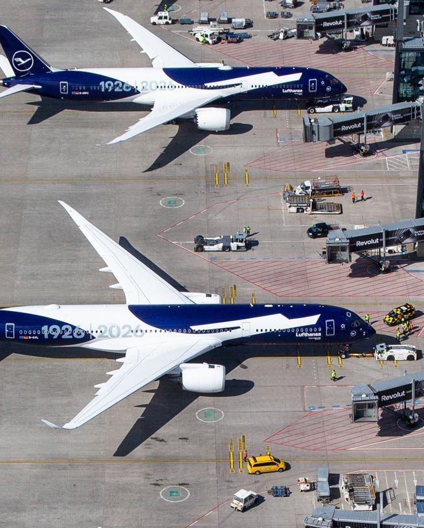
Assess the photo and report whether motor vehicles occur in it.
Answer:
Yes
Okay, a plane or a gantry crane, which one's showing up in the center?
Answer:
plane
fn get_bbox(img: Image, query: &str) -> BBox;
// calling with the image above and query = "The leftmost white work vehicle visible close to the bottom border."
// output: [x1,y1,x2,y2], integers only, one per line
[230,487,257,510]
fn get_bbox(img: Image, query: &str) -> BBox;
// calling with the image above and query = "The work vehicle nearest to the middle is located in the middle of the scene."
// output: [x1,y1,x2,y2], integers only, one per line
[197,233,248,252]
